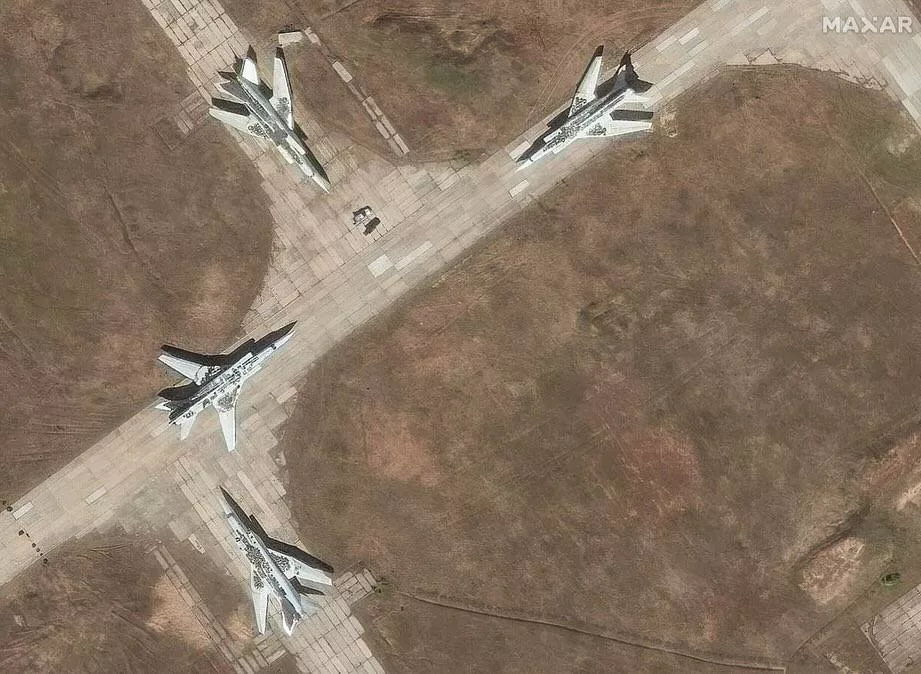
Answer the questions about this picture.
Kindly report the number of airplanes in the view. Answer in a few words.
4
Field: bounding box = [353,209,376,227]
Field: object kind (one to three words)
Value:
vehicle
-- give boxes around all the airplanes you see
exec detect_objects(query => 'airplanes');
[157,329,297,452]
[209,56,331,196]
[514,49,657,172]
[219,495,336,635]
